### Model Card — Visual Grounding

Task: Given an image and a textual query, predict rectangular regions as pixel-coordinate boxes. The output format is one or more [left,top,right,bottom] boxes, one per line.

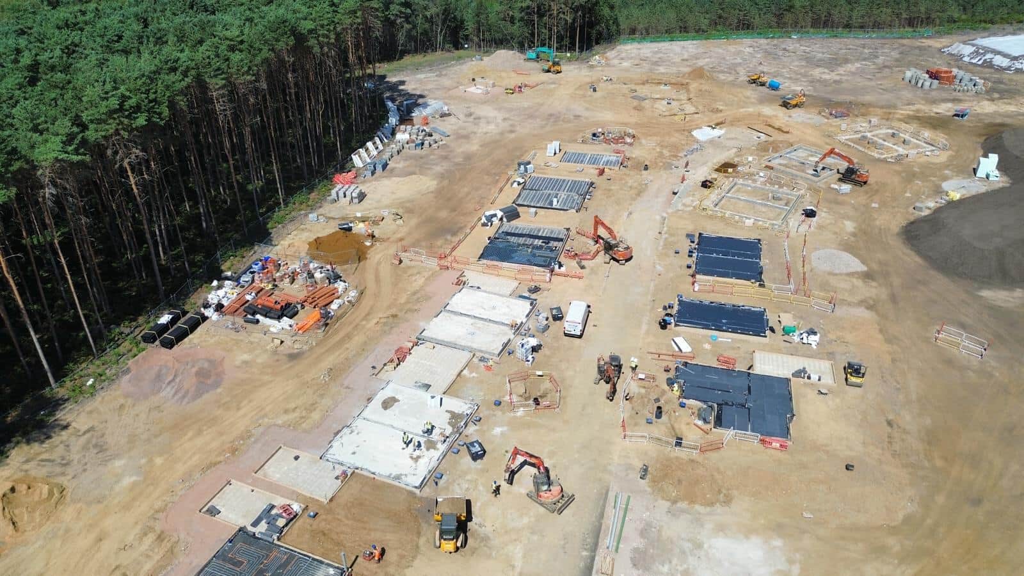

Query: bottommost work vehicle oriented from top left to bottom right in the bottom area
[505,450,580,519]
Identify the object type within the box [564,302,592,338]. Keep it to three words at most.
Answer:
van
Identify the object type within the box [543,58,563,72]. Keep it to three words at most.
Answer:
vehicle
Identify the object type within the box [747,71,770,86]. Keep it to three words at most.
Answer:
vehicle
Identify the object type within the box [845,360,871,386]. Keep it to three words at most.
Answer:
work vehicle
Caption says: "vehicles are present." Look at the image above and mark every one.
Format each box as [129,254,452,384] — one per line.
[845,360,871,386]
[591,209,633,263]
[596,359,624,401]
[505,450,580,519]
[747,71,770,86]
[783,92,808,109]
[564,302,592,338]
[809,144,871,189]
[523,41,555,62]
[543,58,563,72]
